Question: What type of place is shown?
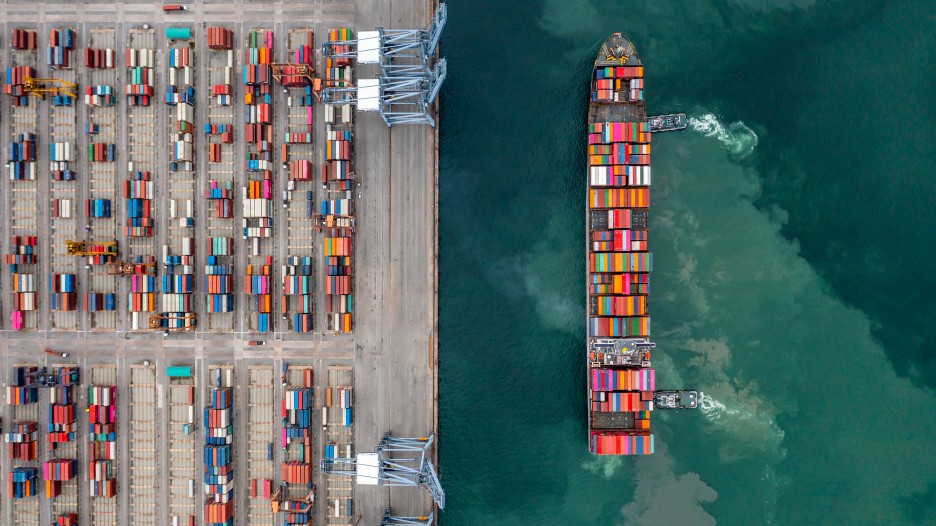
port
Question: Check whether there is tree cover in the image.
No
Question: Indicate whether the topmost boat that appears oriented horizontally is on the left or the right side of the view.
right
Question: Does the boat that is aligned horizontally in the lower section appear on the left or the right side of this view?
right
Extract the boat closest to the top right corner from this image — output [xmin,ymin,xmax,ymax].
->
[645,113,688,134]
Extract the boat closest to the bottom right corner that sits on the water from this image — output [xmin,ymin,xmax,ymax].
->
[649,389,698,409]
